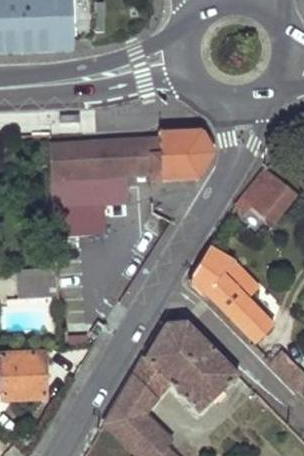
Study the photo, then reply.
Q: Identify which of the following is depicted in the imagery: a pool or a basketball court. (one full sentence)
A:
It is a pool that can be seen here.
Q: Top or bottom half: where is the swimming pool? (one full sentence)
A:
You can find the swimming pool in the bottom half.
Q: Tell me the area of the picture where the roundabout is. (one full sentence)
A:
You can find the roundabout in the top right area of the picture.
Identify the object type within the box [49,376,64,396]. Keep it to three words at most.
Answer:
car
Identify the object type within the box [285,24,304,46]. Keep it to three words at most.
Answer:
vehicle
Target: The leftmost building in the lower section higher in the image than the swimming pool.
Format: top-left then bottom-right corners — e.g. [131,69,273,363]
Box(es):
[17,268,56,298]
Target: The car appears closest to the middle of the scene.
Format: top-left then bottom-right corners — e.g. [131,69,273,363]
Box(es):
[136,230,155,254]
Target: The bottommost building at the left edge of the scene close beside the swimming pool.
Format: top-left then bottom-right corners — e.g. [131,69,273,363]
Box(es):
[0,350,50,405]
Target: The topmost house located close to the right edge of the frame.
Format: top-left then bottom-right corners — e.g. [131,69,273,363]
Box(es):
[236,167,300,226]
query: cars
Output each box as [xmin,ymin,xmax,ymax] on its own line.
[74,84,96,95]
[288,342,304,362]
[49,376,64,396]
[136,230,155,254]
[200,7,220,19]
[52,352,74,372]
[124,257,142,278]
[130,322,147,343]
[91,386,109,409]
[254,88,275,99]
[60,276,81,287]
